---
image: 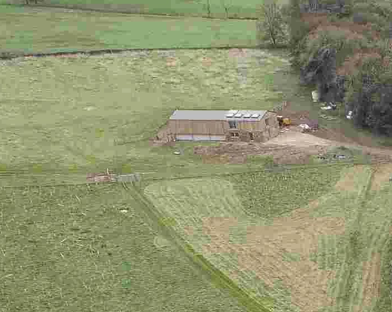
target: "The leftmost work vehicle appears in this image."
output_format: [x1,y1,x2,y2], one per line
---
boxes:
[272,114,293,127]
